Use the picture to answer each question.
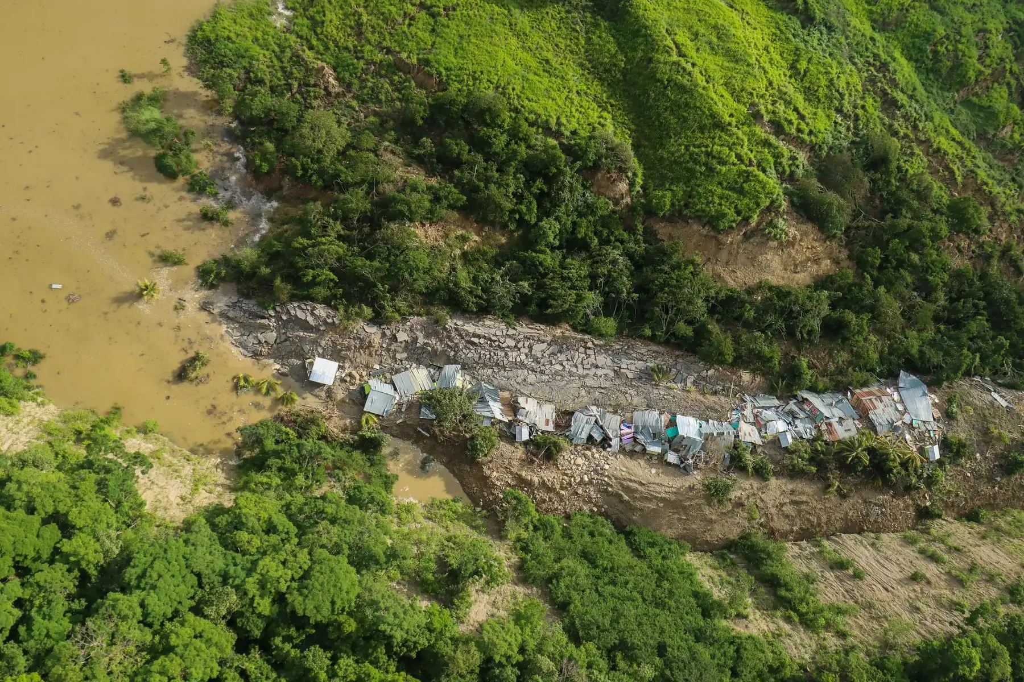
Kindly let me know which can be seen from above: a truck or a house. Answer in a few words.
house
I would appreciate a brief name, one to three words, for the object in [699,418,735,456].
house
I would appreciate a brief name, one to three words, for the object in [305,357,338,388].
shed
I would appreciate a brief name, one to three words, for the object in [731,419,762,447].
house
